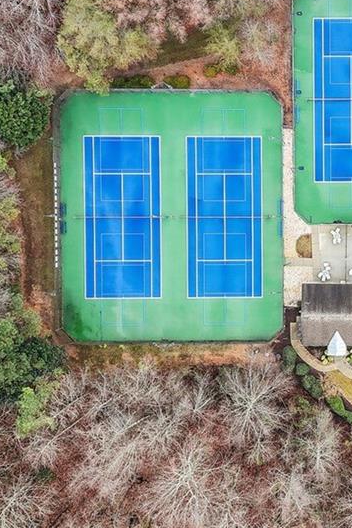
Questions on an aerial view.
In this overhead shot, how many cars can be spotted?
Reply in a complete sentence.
The count of cars is 0.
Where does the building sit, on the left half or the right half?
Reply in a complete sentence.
The building is on the right side of the image.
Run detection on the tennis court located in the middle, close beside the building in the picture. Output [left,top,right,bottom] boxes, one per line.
[63,92,282,341]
